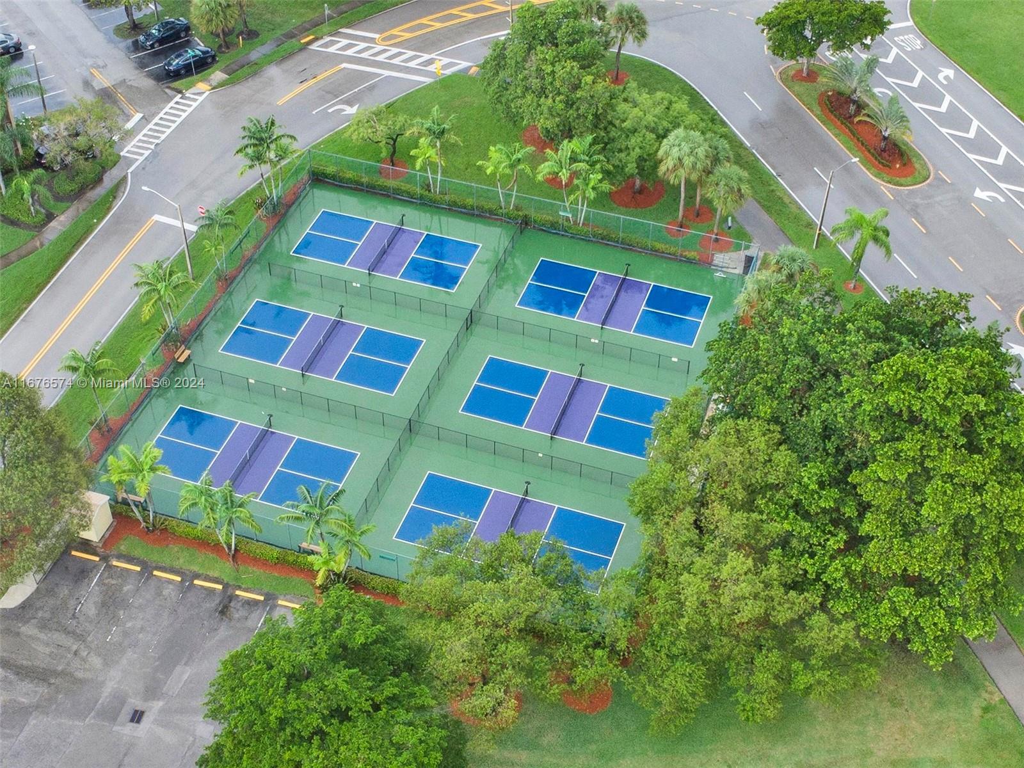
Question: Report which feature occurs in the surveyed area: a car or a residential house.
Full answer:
There is a car in the scene.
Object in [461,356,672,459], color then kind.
blue sports court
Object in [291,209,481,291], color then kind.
blue sports court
